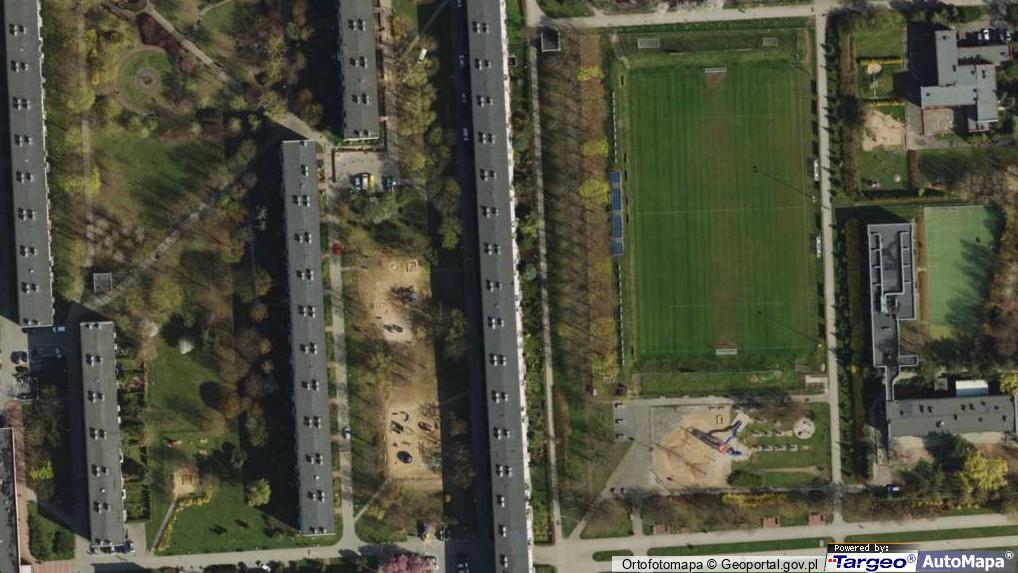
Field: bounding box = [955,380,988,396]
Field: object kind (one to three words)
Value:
building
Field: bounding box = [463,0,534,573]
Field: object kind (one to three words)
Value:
building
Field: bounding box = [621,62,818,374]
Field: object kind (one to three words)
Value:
soccer field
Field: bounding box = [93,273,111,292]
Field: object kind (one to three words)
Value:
house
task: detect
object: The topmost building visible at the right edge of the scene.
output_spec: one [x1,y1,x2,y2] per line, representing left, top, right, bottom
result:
[922,29,1011,131]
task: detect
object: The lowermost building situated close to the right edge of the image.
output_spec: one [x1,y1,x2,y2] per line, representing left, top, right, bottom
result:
[887,395,1015,437]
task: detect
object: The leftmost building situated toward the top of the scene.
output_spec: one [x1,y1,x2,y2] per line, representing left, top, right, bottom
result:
[4,0,56,327]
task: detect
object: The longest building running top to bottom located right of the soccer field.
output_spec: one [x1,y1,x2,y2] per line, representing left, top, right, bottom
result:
[867,223,918,401]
